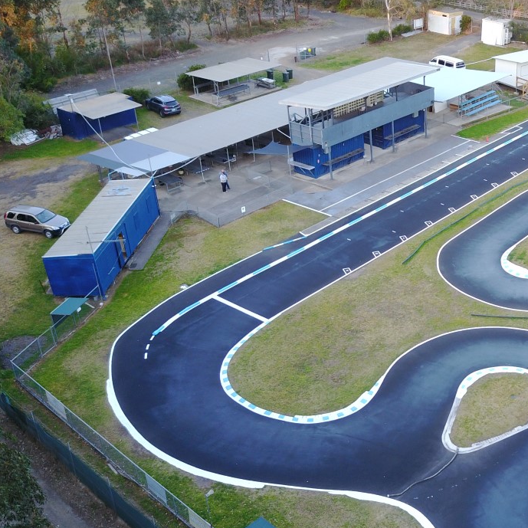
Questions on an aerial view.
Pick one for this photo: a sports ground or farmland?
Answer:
sports ground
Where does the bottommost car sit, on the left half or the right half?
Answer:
left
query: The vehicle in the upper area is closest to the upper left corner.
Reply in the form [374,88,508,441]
[139,94,183,117]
